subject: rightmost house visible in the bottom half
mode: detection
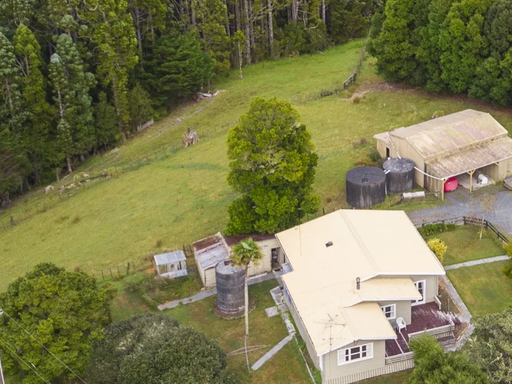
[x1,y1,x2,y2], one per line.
[276,208,458,384]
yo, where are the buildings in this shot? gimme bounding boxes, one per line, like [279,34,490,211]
[368,109,512,201]
[276,208,458,384]
[189,229,231,289]
[153,252,189,284]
